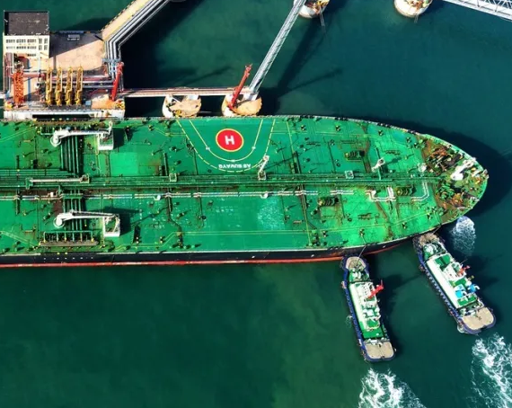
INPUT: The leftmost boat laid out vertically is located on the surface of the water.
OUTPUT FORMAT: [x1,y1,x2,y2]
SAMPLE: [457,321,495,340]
[339,254,395,363]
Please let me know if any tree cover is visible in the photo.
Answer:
No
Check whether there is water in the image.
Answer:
Yes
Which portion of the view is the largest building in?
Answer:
top left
